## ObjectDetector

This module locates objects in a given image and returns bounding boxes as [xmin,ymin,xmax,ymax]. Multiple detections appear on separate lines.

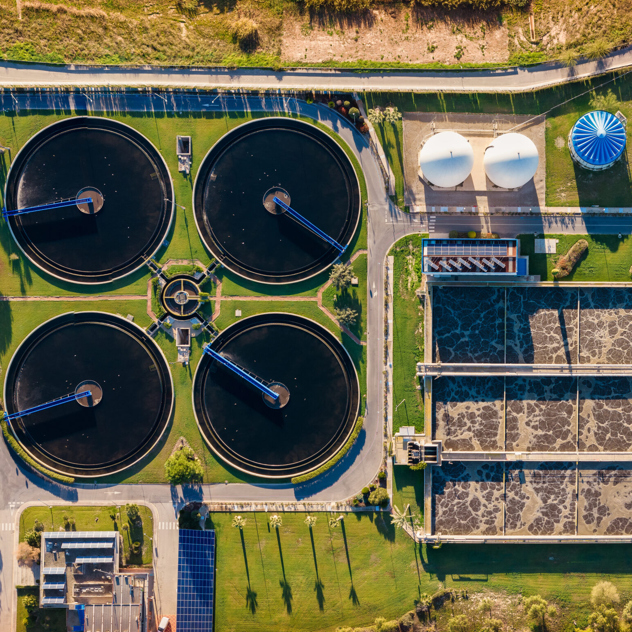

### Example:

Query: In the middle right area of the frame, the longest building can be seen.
[421,238,517,276]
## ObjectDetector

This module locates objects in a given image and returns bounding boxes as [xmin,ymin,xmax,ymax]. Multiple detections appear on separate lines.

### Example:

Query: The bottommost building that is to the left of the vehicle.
[70,570,152,632]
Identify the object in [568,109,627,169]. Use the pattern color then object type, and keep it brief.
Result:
blue storage tank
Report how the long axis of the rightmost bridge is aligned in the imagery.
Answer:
on a diagonal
